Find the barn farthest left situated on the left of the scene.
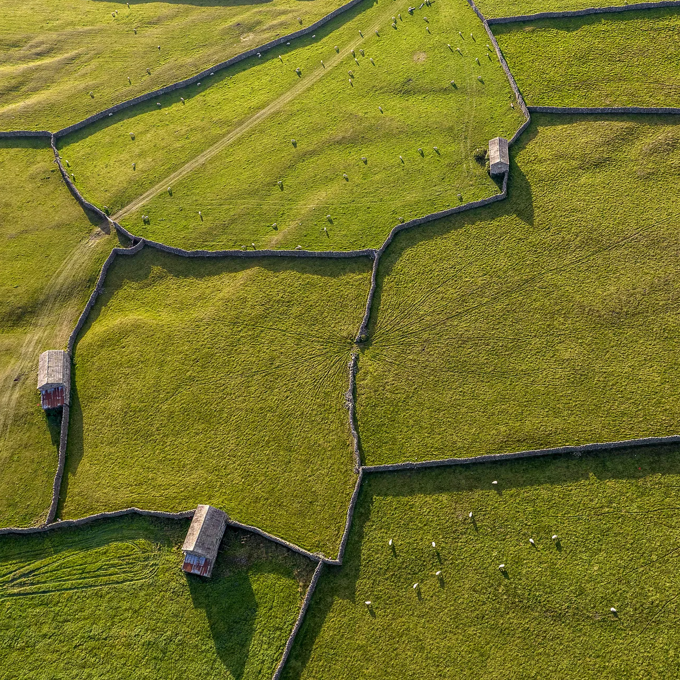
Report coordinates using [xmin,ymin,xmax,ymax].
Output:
[37,348,70,412]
